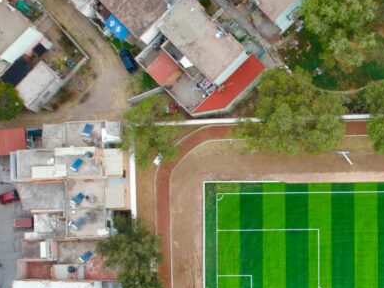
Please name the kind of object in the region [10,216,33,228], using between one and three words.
vehicle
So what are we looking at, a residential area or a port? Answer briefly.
residential area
